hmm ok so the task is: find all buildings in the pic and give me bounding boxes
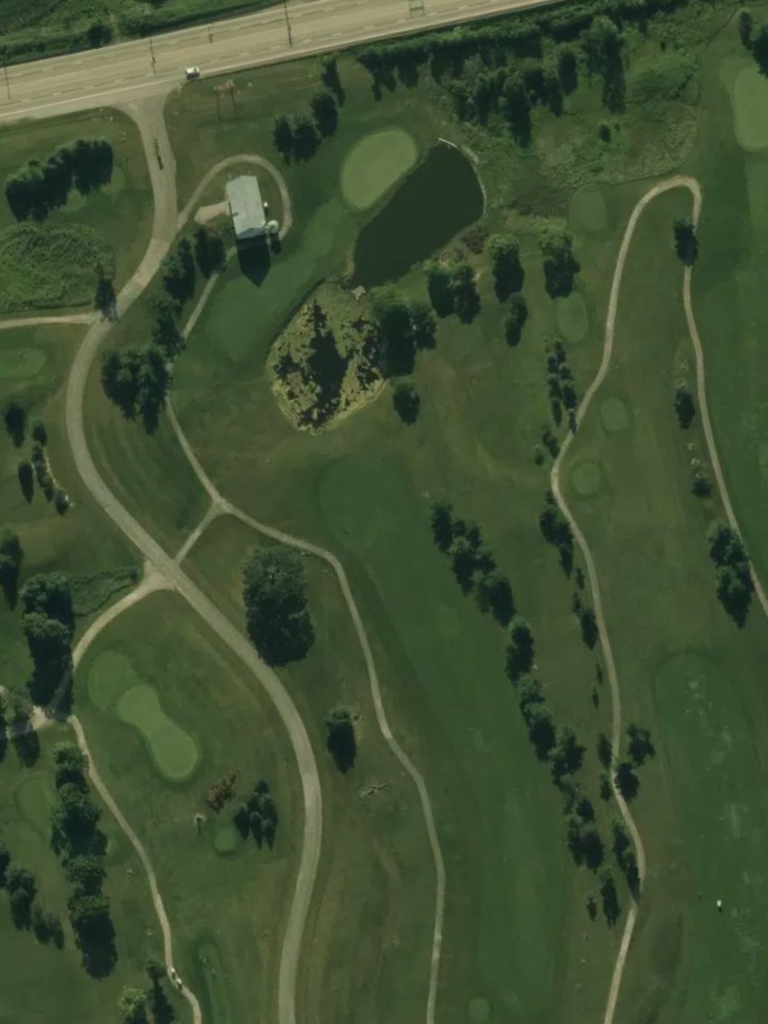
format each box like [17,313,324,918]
[226,177,265,237]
